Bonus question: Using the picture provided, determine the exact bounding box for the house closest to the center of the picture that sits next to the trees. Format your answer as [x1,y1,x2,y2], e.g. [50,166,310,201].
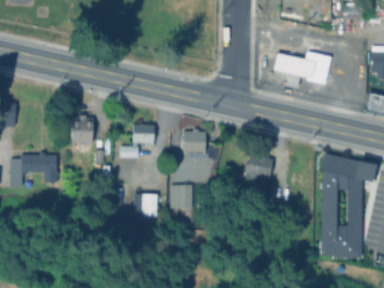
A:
[182,128,207,154]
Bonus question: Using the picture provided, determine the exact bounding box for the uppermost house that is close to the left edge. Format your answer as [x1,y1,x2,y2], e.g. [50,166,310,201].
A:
[0,101,17,127]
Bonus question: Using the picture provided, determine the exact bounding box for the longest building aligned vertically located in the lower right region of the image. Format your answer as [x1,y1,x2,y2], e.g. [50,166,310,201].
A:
[322,162,364,258]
